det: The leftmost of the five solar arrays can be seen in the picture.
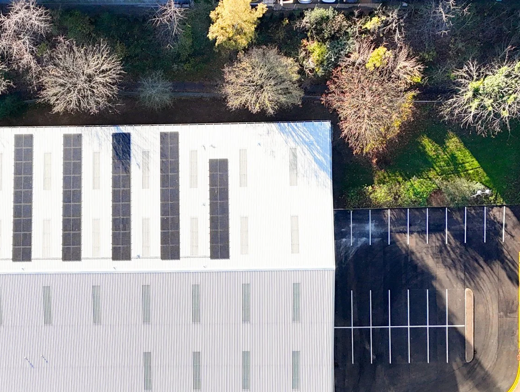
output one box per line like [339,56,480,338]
[10,134,35,260]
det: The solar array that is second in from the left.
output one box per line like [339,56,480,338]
[61,133,83,260]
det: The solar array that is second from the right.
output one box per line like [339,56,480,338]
[160,132,180,259]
